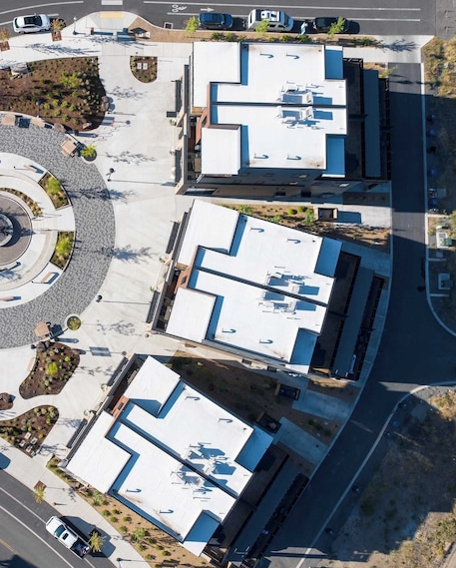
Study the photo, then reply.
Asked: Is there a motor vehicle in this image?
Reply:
Yes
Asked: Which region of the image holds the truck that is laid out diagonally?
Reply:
bottom left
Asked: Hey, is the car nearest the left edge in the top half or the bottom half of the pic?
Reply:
top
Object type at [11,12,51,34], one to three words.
car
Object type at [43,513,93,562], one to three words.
truck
